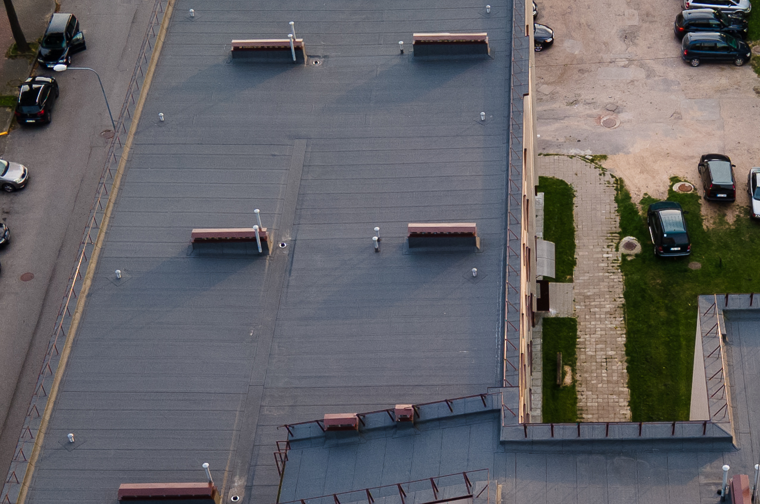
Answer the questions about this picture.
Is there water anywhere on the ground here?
No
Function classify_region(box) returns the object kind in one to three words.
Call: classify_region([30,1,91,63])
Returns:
car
